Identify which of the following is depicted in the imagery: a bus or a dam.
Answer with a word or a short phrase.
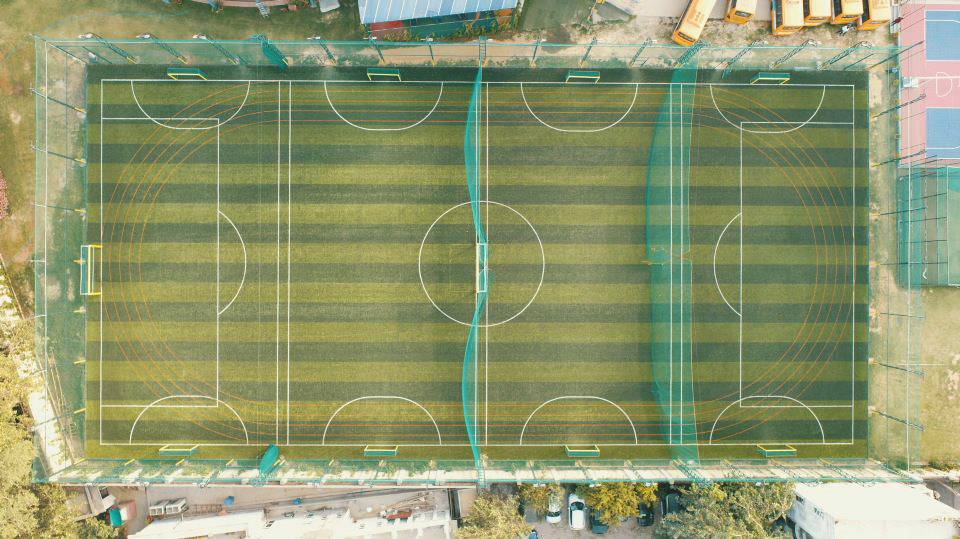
bus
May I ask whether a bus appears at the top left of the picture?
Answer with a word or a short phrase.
No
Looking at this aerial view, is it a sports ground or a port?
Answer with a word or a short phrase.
sports ground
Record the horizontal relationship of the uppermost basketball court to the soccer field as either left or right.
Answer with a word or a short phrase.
right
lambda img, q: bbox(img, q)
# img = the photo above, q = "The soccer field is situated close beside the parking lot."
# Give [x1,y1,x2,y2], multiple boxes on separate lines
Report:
[85,64,869,458]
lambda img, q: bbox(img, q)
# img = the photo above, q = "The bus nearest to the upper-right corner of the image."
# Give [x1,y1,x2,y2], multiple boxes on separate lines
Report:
[857,0,891,31]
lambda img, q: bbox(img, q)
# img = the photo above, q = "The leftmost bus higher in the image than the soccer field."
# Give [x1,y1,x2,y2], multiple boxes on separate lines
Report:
[670,0,714,50]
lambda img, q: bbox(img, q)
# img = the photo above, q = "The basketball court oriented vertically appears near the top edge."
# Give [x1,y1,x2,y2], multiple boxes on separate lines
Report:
[900,0,960,164]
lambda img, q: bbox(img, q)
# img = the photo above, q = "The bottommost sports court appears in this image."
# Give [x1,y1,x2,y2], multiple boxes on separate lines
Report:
[899,167,960,286]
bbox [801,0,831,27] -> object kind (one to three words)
bus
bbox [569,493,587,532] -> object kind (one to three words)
car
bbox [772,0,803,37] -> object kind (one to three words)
bus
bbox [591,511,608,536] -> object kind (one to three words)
car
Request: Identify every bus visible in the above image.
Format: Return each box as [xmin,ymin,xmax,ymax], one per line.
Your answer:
[670,0,714,50]
[801,0,831,27]
[727,0,758,25]
[772,0,803,37]
[857,0,891,31]
[831,0,863,24]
